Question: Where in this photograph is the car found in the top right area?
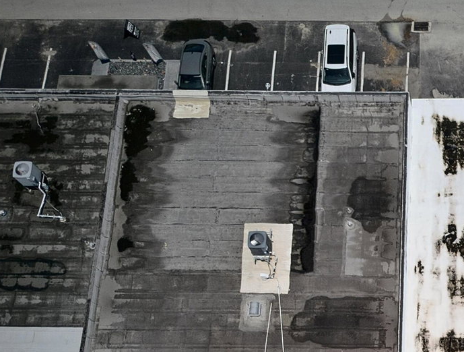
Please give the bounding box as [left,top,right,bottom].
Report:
[318,27,359,93]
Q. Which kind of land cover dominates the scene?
buildings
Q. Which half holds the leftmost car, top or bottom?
top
